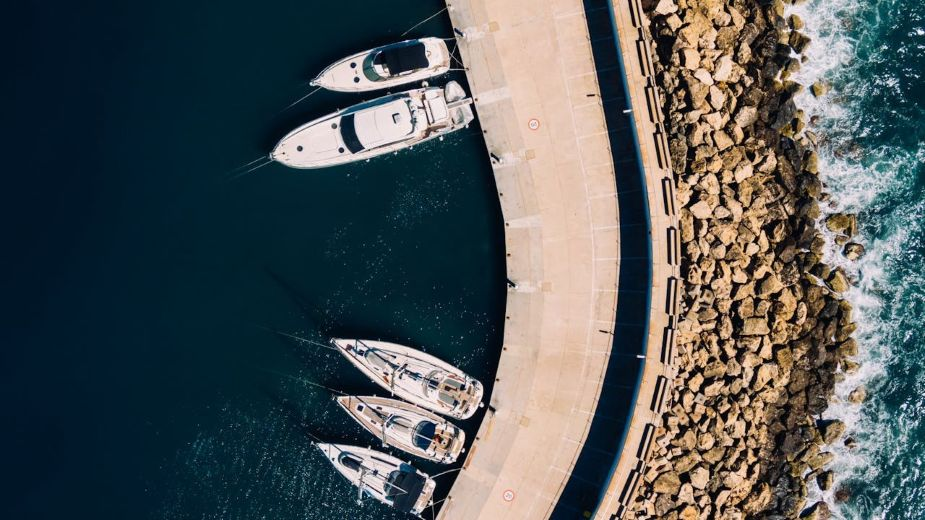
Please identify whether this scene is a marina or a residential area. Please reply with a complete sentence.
This image shows a marina.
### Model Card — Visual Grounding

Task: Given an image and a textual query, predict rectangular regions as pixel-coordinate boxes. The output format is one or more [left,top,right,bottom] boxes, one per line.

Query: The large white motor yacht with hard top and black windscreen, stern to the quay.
[265,81,474,167]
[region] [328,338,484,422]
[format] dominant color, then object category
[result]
white boat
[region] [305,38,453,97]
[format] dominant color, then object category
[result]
white boat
